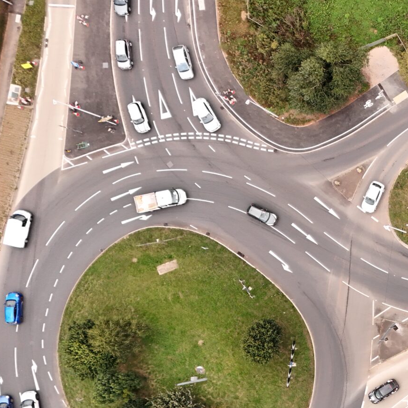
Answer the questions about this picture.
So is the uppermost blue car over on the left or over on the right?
left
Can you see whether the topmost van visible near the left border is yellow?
No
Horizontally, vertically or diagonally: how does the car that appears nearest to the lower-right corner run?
diagonally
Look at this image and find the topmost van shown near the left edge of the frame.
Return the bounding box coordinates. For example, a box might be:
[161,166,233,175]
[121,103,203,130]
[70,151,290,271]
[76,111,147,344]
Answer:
[0,208,32,250]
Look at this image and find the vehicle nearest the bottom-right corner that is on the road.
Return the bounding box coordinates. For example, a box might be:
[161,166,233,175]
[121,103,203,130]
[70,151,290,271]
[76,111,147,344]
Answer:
[367,375,402,406]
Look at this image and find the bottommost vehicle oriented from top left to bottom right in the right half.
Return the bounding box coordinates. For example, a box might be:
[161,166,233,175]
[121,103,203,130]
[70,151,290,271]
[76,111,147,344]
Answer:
[245,201,281,229]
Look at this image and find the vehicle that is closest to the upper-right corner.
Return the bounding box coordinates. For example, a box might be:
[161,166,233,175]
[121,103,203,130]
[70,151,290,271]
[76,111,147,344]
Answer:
[361,180,386,215]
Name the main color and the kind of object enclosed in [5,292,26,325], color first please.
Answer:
blue car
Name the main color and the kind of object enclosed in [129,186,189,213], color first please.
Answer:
white truck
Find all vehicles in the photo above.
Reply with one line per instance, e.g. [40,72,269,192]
[0,395,15,408]
[0,208,32,250]
[192,95,222,135]
[115,39,135,71]
[19,389,41,408]
[367,375,402,406]
[5,292,26,325]
[127,100,153,135]
[361,180,386,215]
[245,201,281,229]
[172,45,196,82]
[129,186,189,213]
